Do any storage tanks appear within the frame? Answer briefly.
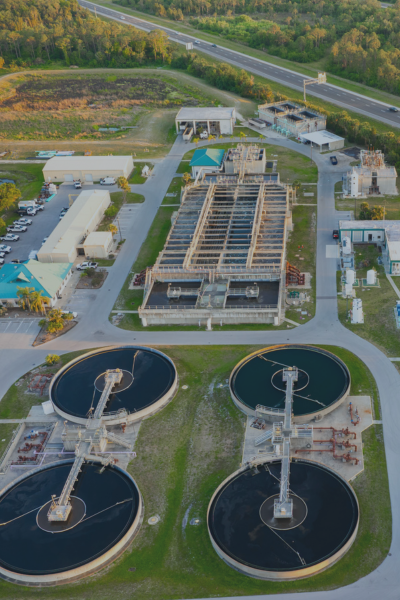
Yes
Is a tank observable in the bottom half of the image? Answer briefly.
Yes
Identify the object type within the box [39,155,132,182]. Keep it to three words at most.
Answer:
building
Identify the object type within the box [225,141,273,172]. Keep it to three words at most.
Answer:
building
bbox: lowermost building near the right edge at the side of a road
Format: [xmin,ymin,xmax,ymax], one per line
[337,220,400,275]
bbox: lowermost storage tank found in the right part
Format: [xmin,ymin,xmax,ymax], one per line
[205,462,361,585]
